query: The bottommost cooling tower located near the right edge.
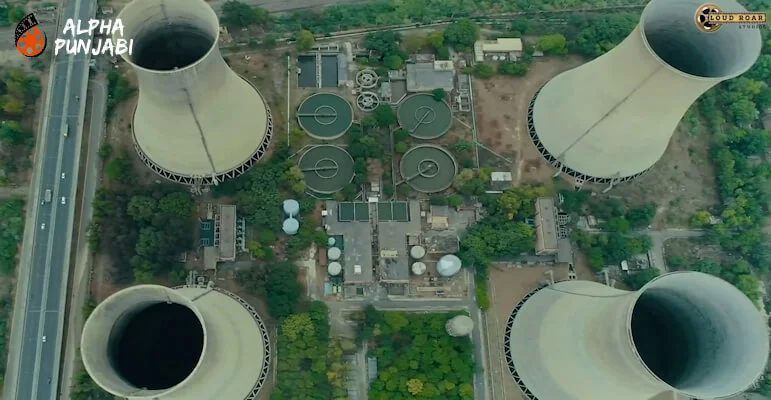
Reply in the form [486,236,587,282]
[503,267,769,400]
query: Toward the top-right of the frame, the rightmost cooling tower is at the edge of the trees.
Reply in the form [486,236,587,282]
[527,0,763,193]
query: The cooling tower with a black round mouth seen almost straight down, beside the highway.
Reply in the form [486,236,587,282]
[78,272,272,400]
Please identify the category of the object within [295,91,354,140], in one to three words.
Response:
storage tank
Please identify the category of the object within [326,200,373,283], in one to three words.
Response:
house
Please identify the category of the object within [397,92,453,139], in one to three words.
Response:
storage tank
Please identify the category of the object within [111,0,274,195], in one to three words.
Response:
cooling tower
